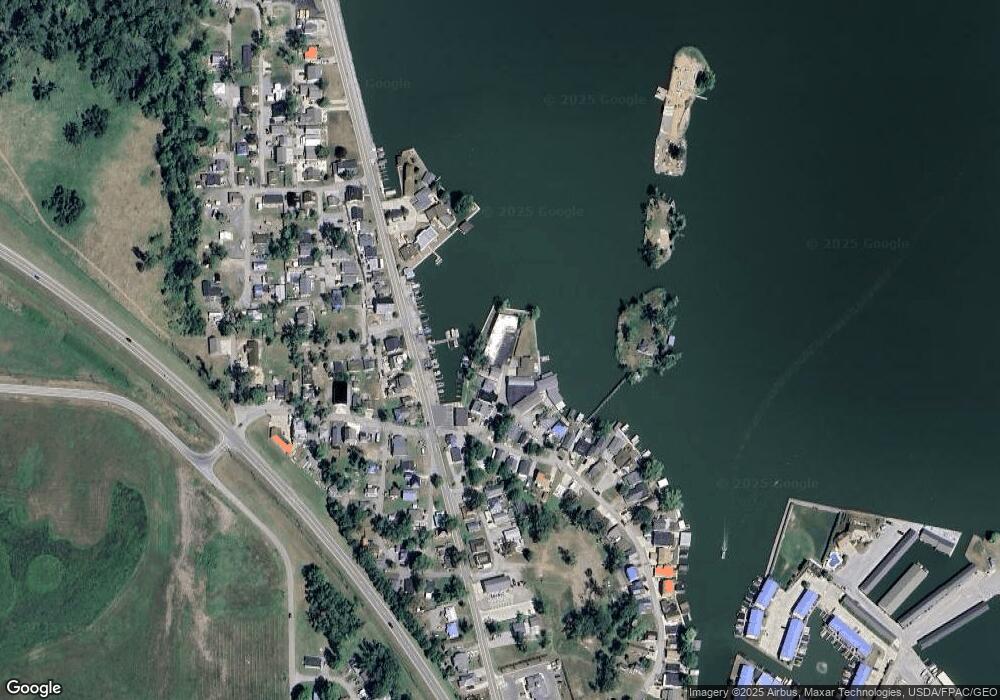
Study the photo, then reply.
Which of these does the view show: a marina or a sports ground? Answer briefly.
marina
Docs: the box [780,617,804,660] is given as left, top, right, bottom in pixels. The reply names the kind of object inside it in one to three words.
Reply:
shed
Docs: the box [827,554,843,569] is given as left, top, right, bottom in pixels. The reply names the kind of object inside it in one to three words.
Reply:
swimming pool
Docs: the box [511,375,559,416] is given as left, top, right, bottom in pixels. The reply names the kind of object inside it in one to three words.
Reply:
building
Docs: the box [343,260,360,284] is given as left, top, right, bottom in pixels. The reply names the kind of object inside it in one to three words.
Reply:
house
